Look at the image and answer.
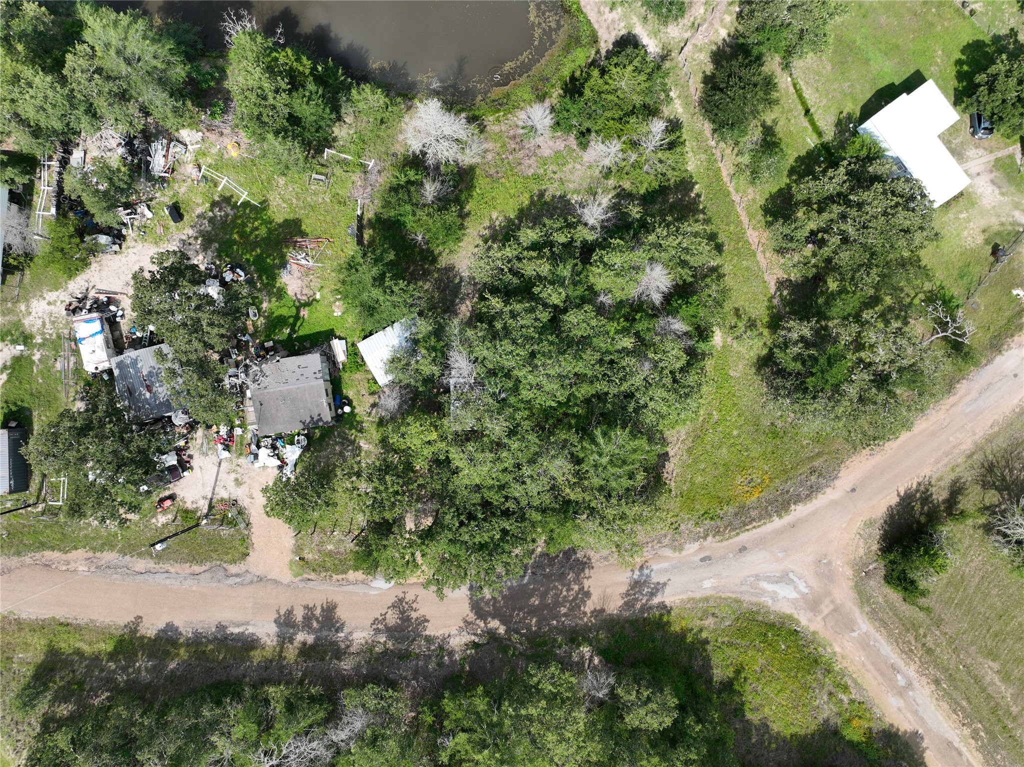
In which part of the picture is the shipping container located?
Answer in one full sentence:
The shipping container sits in the left section of the image.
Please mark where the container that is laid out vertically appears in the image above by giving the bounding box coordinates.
[0,427,28,496]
